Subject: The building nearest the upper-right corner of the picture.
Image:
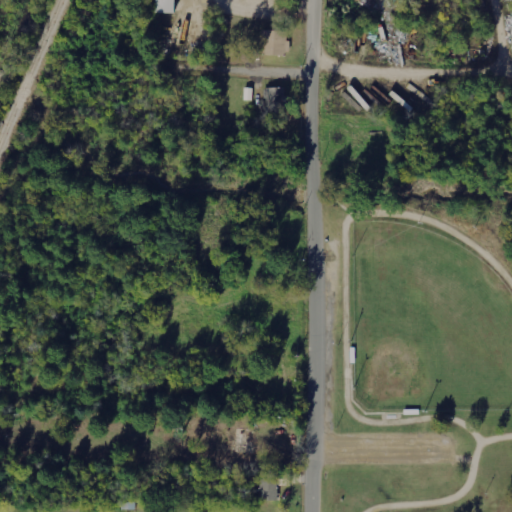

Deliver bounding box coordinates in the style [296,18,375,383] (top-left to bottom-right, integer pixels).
[266,31,290,55]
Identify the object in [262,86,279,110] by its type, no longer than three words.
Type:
house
